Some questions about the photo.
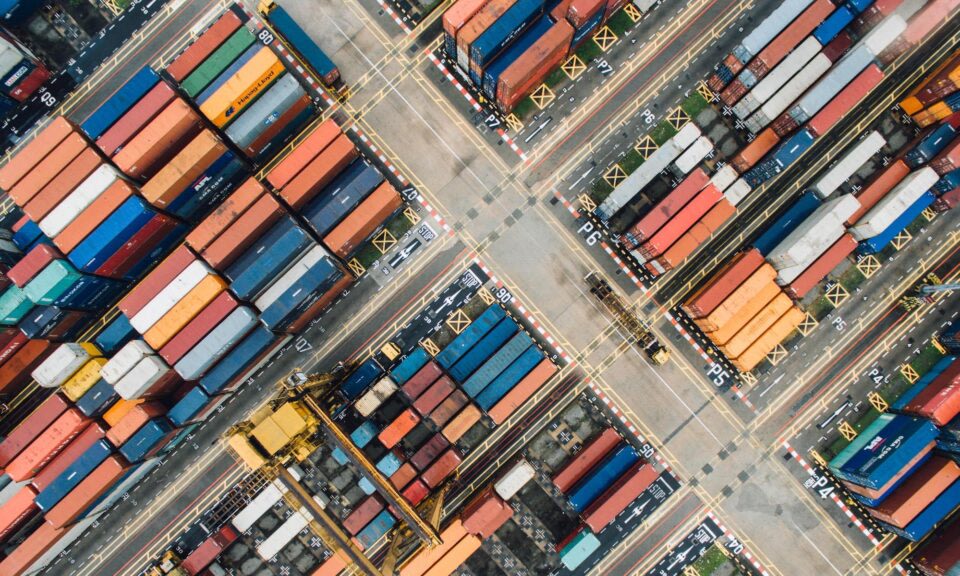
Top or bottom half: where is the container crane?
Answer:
bottom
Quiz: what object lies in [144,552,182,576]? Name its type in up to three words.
truck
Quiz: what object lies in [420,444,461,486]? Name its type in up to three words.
shipping container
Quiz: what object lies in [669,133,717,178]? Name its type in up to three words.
shipping container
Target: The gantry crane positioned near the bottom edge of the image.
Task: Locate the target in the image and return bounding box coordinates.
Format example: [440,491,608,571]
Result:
[213,361,453,576]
